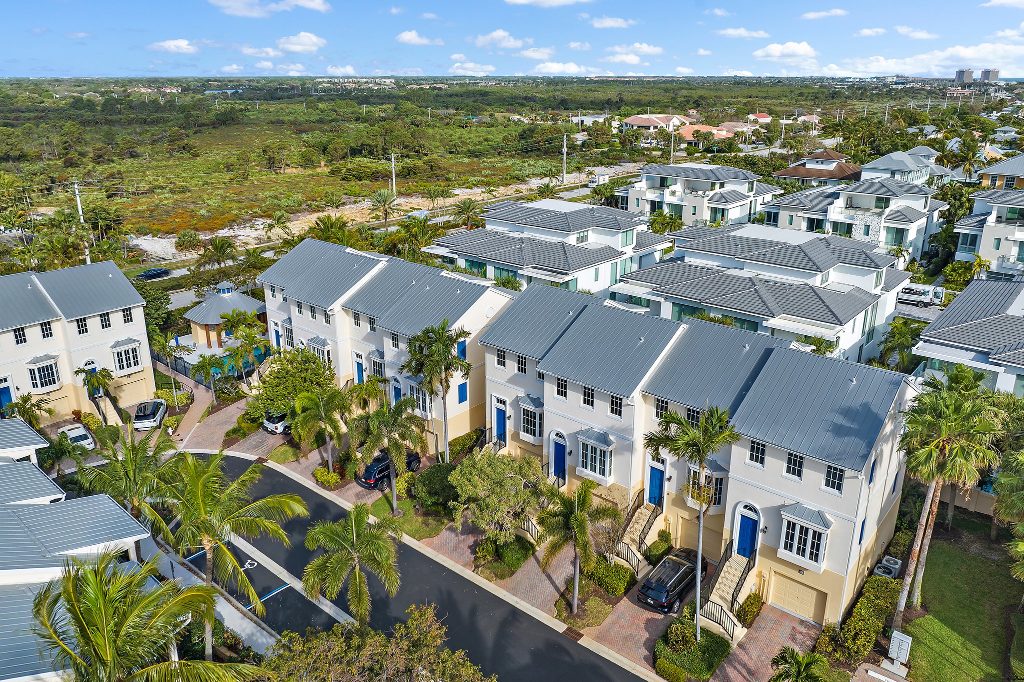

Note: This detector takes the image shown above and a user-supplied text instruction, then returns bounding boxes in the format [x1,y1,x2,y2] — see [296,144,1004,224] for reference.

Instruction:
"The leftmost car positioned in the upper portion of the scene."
[134,265,174,278]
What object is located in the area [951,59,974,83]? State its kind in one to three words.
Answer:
building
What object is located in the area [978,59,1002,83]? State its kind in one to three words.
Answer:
building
